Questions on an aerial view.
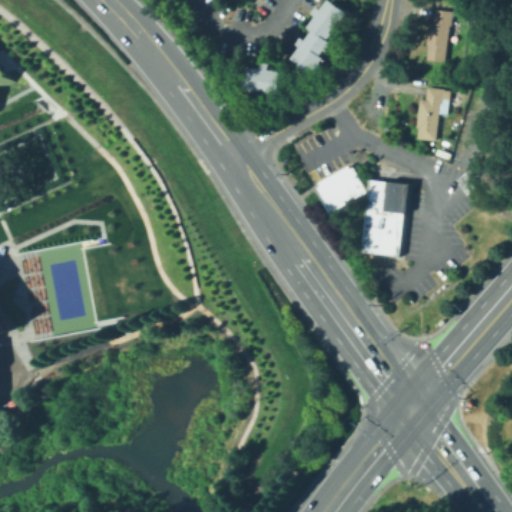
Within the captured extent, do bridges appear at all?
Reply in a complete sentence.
No, I can't see a single bridge in this photo.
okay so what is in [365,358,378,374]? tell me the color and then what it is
white vehicle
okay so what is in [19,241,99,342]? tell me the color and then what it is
green sports court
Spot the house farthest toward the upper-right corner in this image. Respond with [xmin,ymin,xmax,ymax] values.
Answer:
[424,8,455,63]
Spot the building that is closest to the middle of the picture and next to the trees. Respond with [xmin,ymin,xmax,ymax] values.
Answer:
[317,166,367,212]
